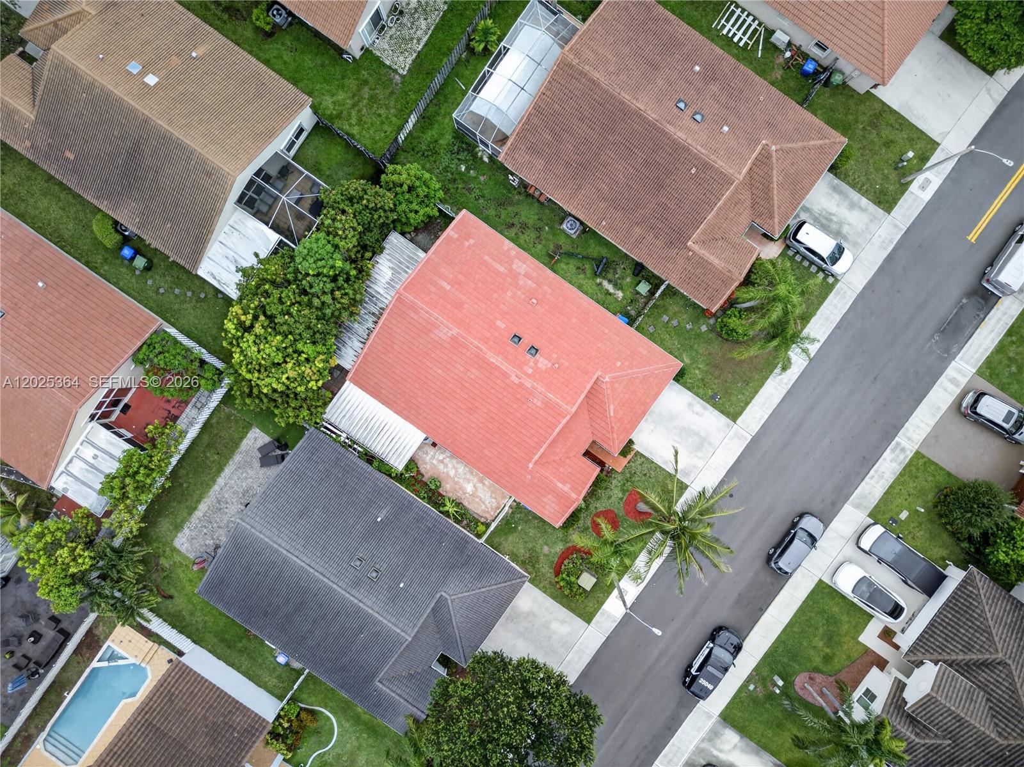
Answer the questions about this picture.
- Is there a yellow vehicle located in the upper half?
No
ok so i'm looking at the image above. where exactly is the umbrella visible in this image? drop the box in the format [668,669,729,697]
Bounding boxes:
[1,679,27,697]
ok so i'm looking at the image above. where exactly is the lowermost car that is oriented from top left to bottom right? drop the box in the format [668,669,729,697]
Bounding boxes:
[831,561,909,626]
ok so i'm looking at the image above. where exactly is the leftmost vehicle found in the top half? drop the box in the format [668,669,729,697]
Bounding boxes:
[784,217,859,278]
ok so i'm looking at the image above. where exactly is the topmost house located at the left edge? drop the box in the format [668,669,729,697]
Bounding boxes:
[0,0,316,276]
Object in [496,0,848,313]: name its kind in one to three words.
house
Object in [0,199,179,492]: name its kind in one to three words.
house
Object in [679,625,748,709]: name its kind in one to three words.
car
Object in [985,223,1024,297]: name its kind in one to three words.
van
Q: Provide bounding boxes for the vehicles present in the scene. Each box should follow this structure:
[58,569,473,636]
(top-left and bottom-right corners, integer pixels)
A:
[985,223,1024,297]
[852,520,948,599]
[831,561,909,626]
[679,625,748,709]
[959,387,1024,445]
[784,217,859,278]
[767,512,829,583]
